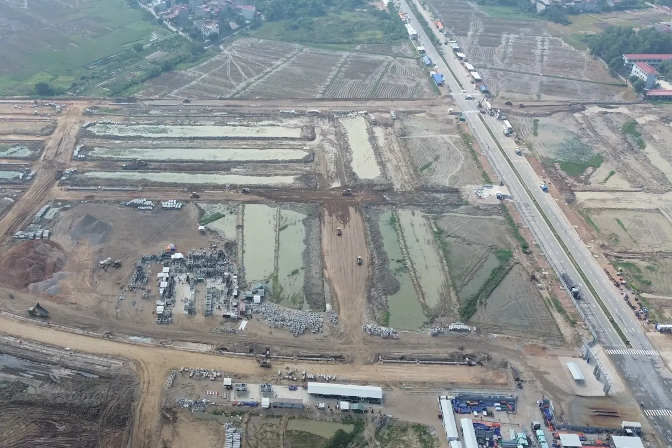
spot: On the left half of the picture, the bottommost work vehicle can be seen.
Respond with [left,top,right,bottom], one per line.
[256,347,271,367]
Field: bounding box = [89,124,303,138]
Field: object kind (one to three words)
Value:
pond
